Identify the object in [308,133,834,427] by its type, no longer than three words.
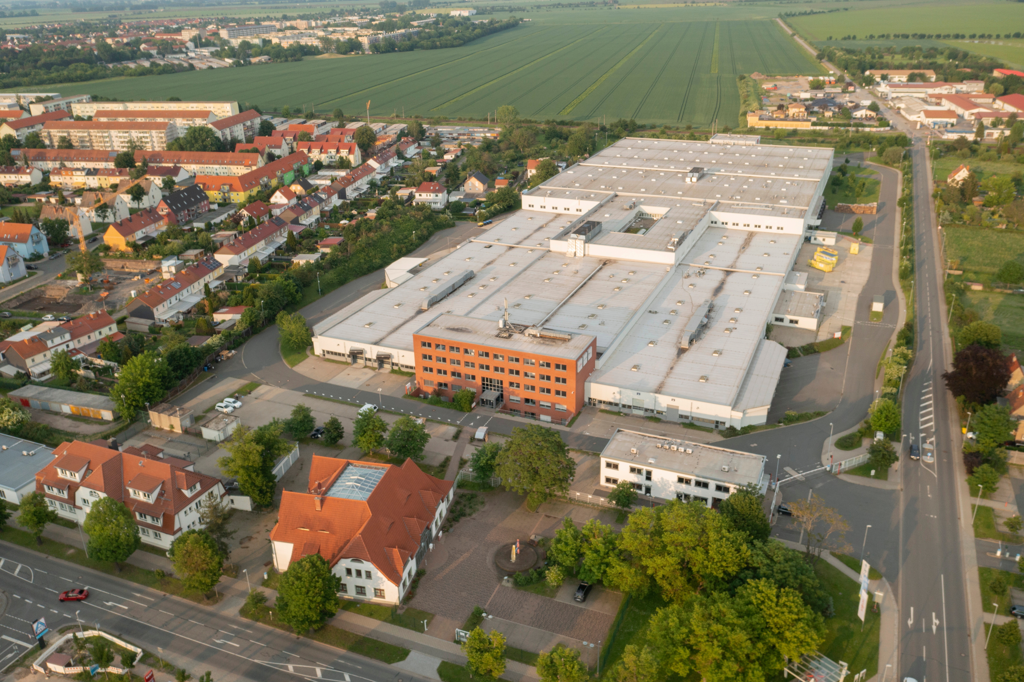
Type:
building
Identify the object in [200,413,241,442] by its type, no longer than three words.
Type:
house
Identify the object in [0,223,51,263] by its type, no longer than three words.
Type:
house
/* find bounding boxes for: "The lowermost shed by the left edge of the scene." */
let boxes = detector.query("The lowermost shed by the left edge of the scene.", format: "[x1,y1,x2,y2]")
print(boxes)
[42,644,75,673]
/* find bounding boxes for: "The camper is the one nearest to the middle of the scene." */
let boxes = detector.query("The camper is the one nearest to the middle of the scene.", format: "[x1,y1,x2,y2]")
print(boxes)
[475,424,489,440]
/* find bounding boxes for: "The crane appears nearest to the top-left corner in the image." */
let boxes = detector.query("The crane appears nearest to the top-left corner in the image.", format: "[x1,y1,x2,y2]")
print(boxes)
[61,173,151,250]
